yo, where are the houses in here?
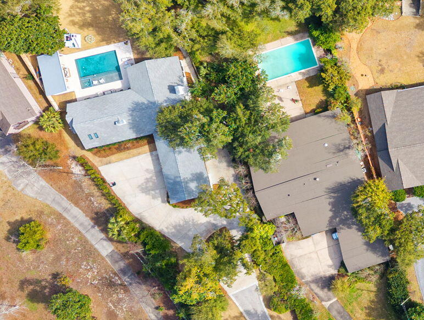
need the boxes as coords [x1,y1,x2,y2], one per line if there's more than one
[0,53,41,136]
[66,56,213,204]
[367,85,424,190]
[248,108,391,273]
